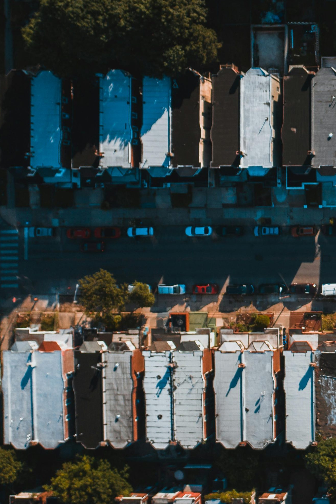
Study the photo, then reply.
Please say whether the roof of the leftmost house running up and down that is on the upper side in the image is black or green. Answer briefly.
black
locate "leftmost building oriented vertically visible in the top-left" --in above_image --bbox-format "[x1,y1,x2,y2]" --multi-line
[0,69,57,195]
